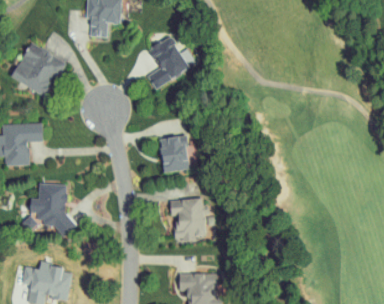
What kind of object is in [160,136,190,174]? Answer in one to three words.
house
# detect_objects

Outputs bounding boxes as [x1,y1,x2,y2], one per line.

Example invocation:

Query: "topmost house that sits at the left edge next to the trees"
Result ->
[11,42,68,98]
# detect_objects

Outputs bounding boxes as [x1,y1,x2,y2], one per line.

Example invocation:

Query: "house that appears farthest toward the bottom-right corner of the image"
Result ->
[180,272,224,304]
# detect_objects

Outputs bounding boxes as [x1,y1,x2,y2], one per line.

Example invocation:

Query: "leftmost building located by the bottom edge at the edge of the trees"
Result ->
[22,260,72,304]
